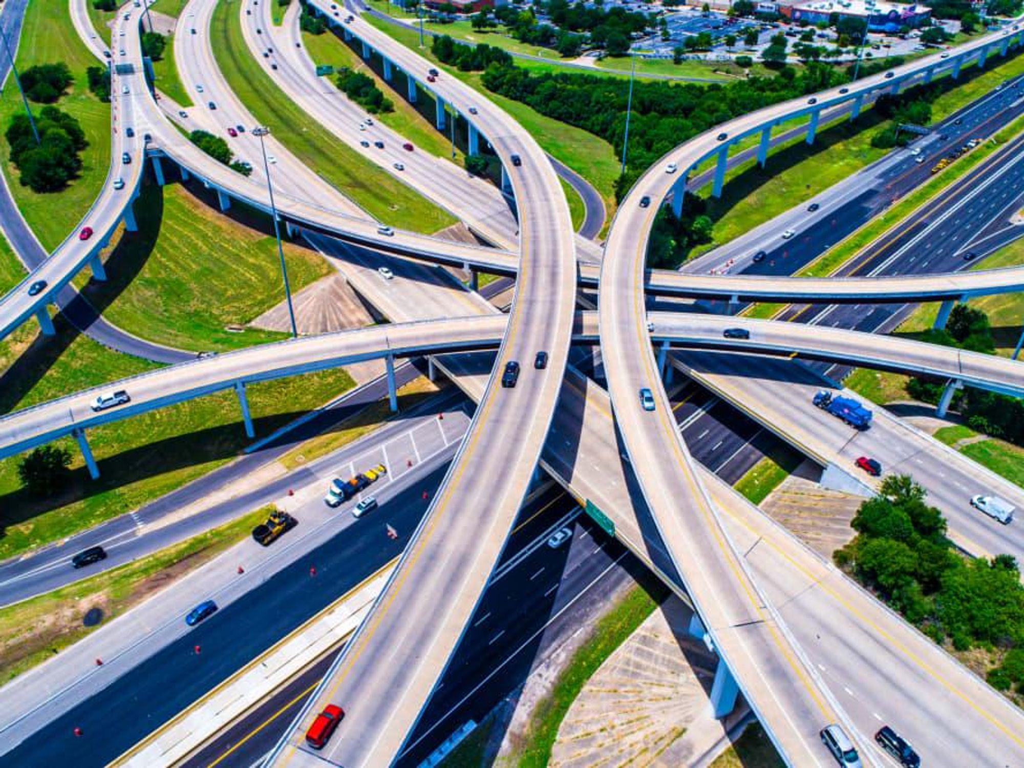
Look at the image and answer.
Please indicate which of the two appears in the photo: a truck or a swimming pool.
truck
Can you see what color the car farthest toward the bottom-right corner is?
black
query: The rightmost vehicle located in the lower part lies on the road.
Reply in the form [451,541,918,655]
[968,497,1020,527]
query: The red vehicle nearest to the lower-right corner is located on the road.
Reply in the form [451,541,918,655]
[854,458,884,477]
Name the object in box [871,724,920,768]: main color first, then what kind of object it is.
black car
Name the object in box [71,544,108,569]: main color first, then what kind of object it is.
black car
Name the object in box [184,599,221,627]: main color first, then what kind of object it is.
blue car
